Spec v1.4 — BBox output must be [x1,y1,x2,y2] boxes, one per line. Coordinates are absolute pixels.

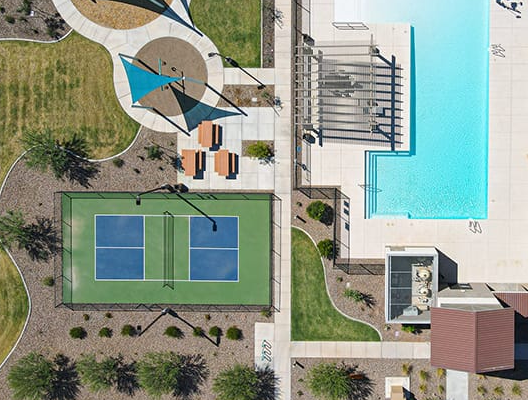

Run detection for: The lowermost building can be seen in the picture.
[425,278,528,373]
